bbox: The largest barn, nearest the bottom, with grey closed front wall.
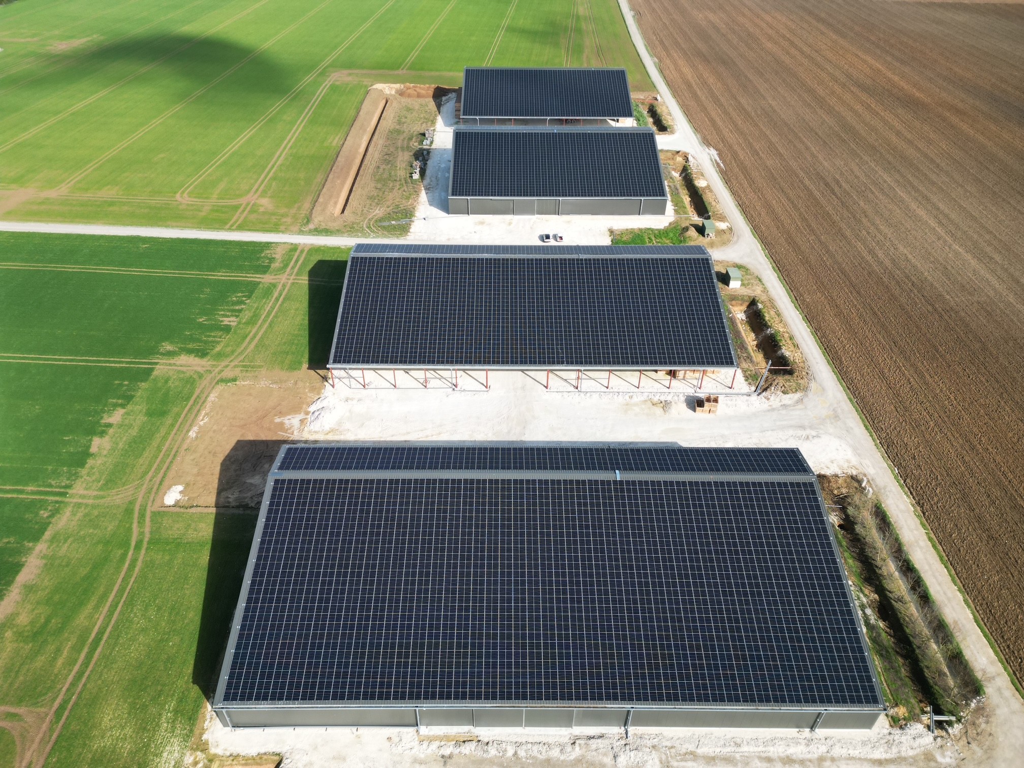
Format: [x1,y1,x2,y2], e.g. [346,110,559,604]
[211,445,888,740]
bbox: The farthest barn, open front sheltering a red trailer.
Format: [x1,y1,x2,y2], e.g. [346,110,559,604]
[460,66,637,127]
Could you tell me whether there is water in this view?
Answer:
No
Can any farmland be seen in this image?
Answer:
Yes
